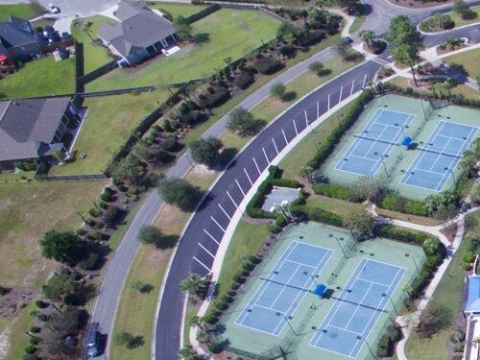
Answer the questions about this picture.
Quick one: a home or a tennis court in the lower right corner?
tennis court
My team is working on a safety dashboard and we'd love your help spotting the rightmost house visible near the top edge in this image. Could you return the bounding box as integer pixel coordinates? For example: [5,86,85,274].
[100,1,178,70]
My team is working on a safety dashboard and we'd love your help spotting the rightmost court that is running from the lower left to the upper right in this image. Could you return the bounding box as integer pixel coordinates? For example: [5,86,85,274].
[384,106,480,199]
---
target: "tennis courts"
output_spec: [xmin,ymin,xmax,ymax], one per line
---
[222,220,358,358]
[384,106,480,199]
[287,238,426,360]
[314,92,434,192]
